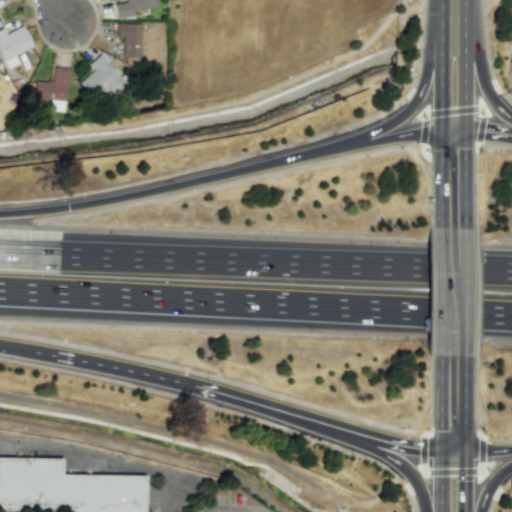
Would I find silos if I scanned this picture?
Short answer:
No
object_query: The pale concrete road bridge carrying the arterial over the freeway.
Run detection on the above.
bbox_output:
[430,226,482,358]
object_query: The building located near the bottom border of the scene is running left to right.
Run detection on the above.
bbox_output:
[0,458,148,512]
